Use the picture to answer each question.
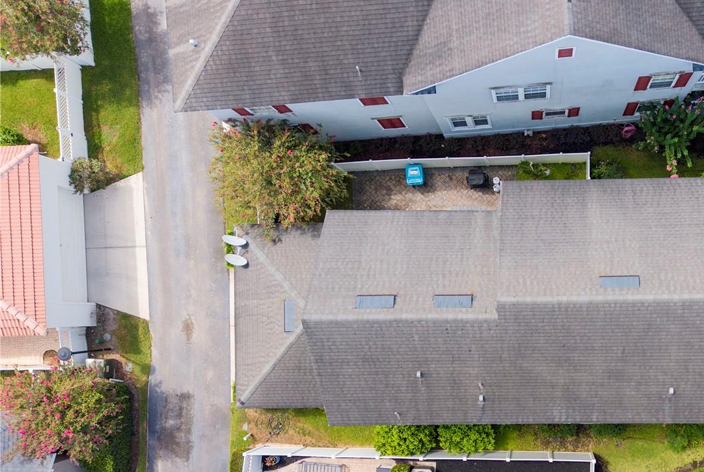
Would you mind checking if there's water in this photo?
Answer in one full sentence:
No, the scene doesn't show any water.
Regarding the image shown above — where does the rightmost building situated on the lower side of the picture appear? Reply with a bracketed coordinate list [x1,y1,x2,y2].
[233,178,704,423]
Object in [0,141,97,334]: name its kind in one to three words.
building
